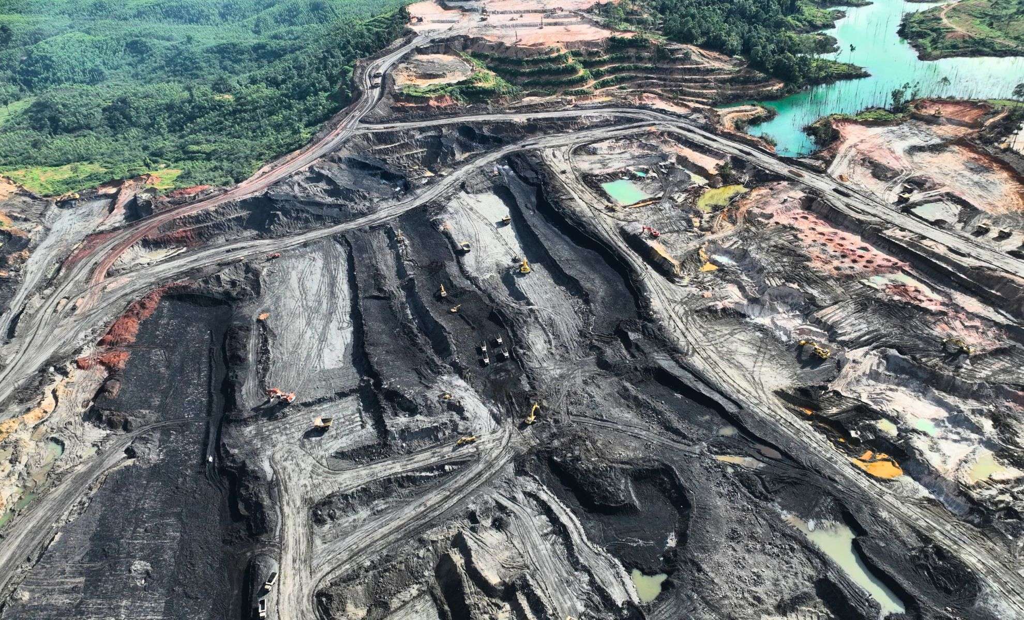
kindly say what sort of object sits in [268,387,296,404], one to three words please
work vehicle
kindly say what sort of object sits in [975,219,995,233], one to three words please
vehicle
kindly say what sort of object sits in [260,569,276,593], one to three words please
vehicle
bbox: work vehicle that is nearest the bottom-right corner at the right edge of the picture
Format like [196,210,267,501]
[940,332,981,355]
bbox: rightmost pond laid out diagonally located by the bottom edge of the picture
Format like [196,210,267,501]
[784,518,907,620]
